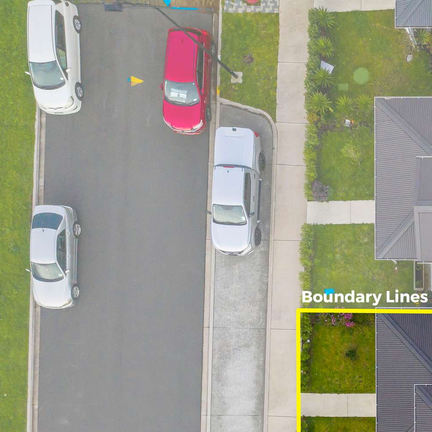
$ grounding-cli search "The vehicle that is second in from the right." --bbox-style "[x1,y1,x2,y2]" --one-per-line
[155,26,217,133]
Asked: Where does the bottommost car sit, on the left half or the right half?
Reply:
left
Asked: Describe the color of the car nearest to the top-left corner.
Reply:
white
